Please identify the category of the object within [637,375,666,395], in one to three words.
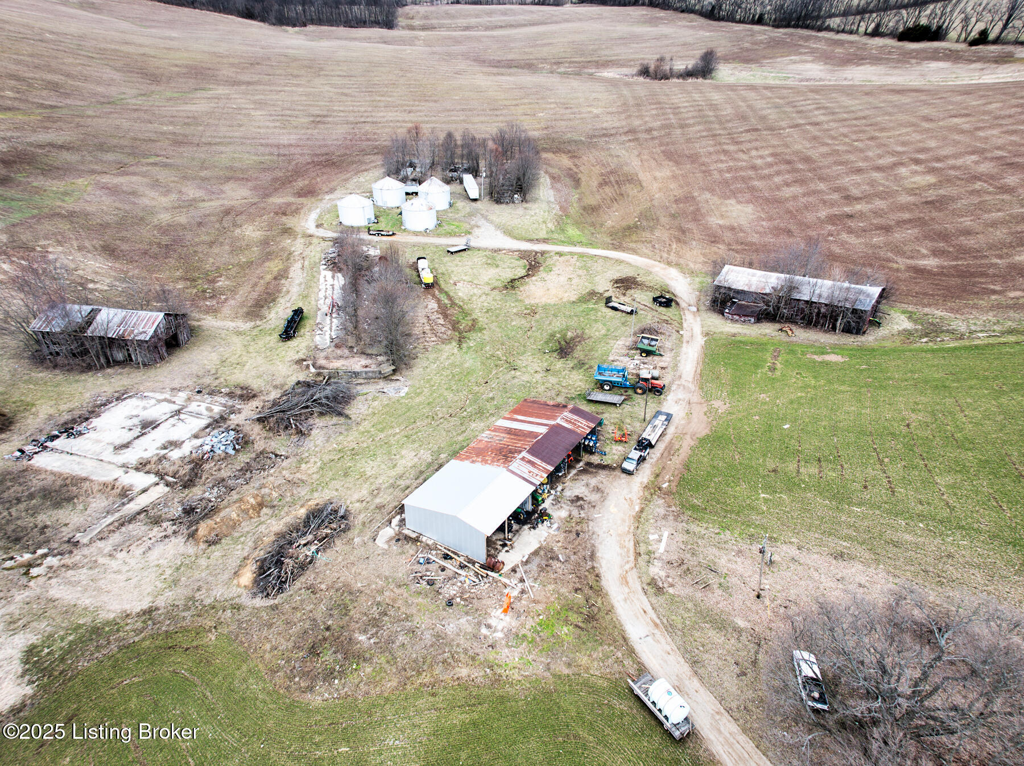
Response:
work vehicle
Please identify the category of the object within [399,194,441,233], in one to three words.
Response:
silo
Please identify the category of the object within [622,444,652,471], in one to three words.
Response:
truck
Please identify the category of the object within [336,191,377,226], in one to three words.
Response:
silo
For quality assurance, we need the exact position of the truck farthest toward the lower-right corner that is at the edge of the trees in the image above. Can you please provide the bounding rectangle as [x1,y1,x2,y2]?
[794,653,828,710]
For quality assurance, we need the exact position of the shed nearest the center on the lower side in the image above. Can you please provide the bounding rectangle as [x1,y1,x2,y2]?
[405,396,599,561]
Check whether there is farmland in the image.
Yes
